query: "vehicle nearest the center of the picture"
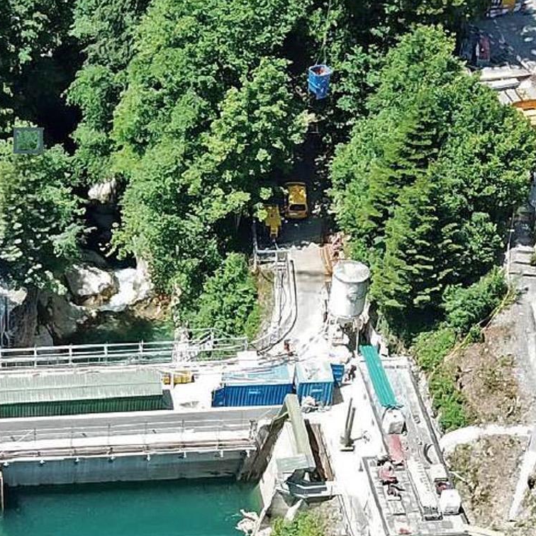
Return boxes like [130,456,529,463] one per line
[282,178,308,216]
